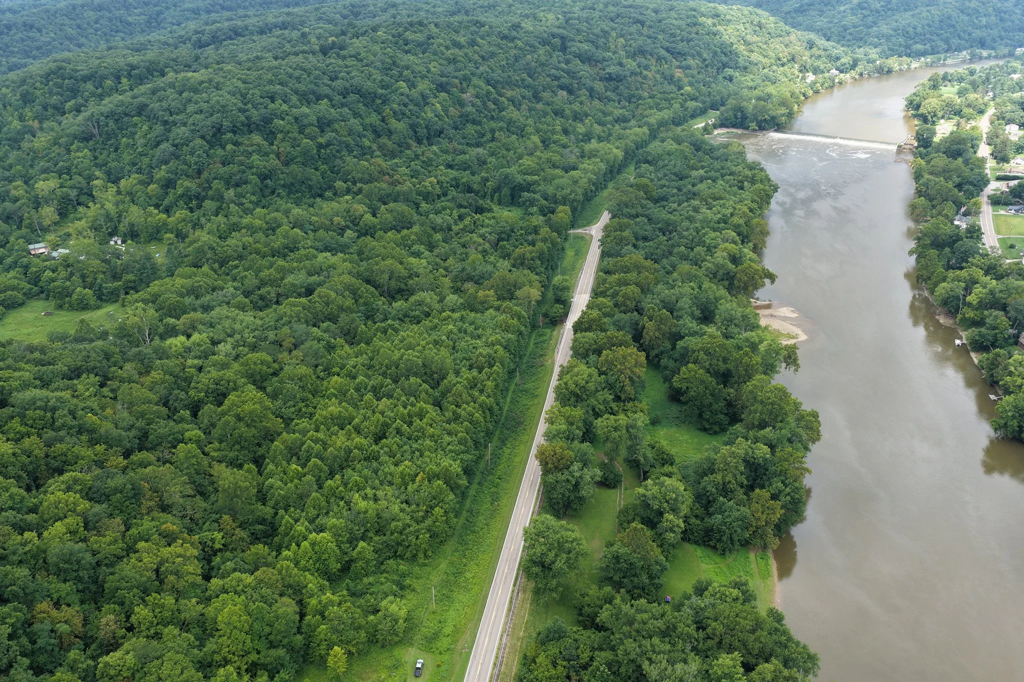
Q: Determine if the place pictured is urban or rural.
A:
rural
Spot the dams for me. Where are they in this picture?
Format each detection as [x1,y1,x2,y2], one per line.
[757,131,908,152]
